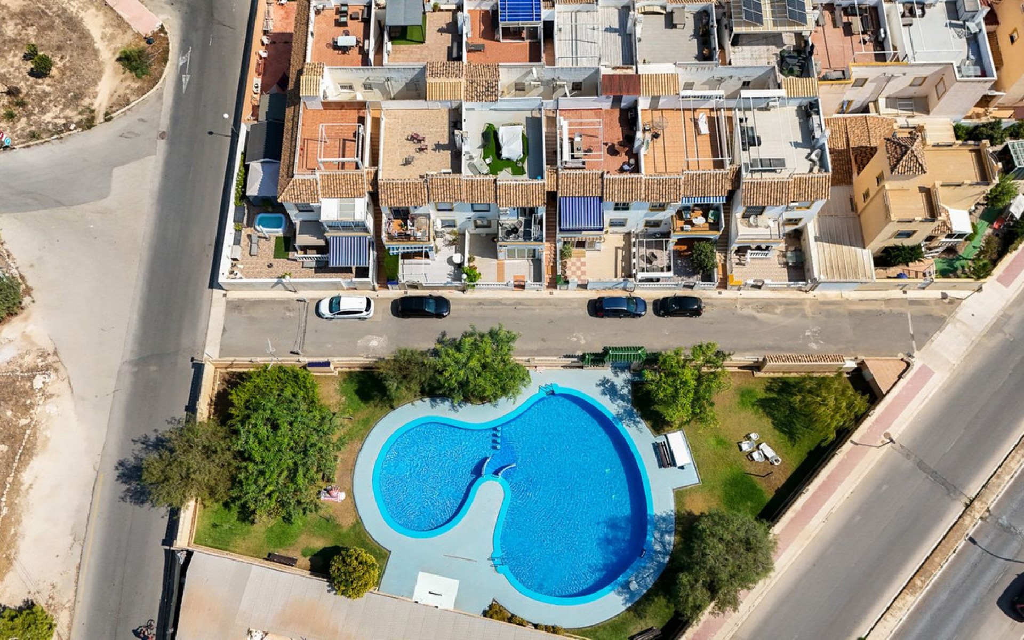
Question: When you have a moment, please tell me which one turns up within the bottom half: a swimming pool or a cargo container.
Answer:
swimming pool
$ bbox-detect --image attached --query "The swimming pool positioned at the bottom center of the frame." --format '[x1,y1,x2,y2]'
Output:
[372,383,654,604]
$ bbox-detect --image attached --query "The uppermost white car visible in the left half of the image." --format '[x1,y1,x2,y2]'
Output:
[321,293,374,321]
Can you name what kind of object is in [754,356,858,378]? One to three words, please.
shed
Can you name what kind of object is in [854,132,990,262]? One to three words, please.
house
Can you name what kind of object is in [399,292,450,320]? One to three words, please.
car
